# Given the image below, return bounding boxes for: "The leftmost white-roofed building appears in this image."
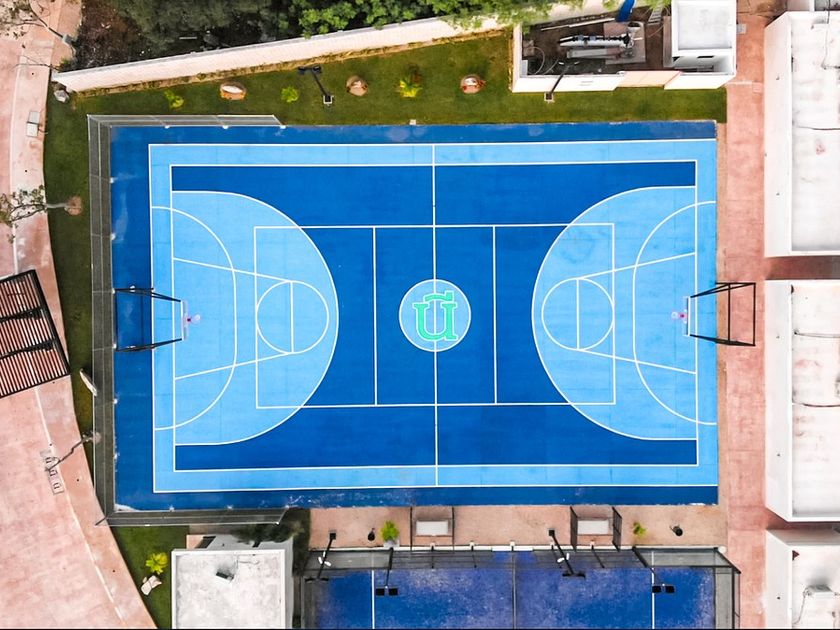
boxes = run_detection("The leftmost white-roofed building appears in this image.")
[172,535,293,630]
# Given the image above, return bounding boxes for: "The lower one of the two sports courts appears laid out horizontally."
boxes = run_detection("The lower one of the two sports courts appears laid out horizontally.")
[304,541,742,630]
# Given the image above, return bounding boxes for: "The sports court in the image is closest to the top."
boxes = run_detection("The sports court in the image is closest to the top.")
[112,121,718,509]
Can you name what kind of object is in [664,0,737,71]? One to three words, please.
shed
